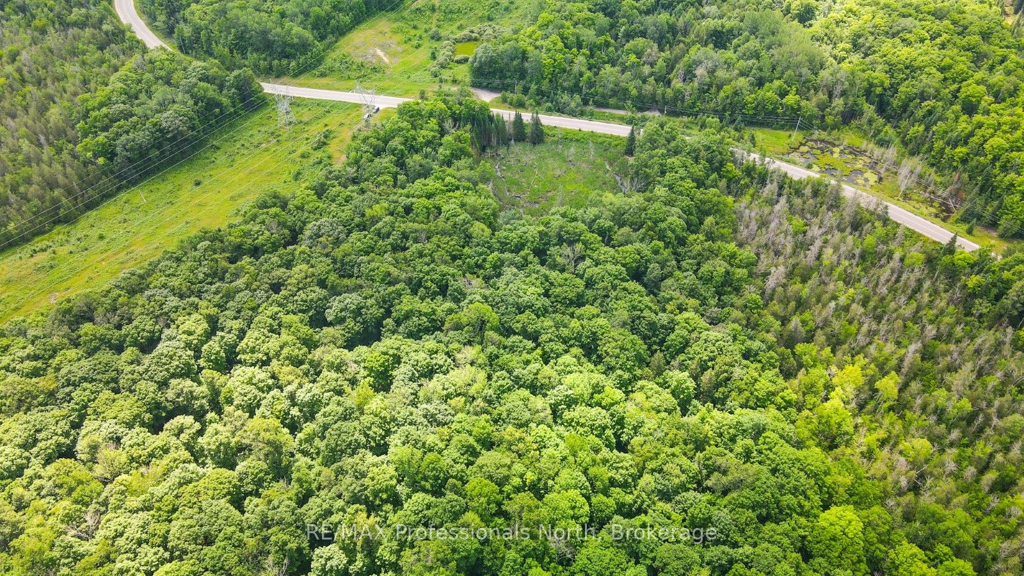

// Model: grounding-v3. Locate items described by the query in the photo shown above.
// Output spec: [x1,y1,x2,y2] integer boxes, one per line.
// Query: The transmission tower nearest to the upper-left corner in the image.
[264,76,300,130]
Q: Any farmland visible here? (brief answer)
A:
No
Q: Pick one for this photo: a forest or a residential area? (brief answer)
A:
forest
